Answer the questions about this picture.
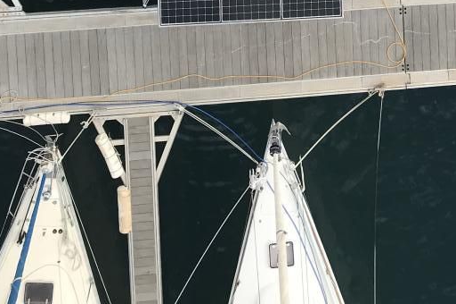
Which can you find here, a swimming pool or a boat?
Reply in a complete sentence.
Of the two, only a boat appears.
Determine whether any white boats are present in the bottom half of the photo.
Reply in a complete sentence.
Yes, looking in the bottom half of the photo, one can make out a white boat.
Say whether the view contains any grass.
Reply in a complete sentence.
No, the scene doesn't show any grass.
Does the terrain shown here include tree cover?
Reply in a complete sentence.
No, the picture contains no tree cover.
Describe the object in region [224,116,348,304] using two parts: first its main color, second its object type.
white boat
